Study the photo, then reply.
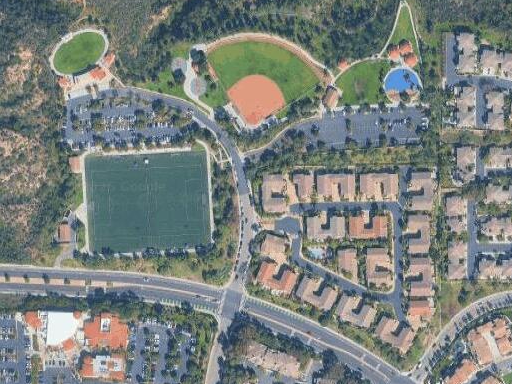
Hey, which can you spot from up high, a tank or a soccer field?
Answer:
soccer field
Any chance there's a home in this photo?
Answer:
Yes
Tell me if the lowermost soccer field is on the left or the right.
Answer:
left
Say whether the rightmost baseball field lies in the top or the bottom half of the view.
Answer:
top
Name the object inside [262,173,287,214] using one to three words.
building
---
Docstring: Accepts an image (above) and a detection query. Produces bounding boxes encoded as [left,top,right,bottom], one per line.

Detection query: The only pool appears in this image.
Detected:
[306,244,326,259]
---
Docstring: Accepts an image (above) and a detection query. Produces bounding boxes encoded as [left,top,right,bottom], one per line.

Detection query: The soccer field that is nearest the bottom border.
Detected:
[84,151,212,252]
